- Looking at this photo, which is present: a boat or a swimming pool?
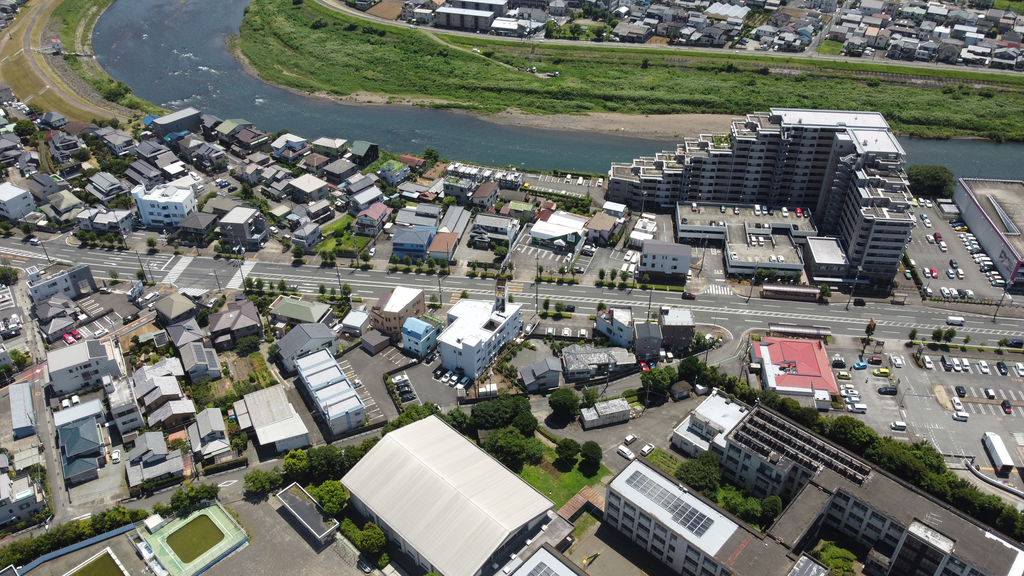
swimming pool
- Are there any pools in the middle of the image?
No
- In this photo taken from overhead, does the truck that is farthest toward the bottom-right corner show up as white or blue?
white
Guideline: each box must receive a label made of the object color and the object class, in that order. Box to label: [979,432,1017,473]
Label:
white truck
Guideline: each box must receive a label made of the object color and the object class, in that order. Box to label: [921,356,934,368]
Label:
white vehicle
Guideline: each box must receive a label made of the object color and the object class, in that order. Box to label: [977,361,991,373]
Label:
white vehicle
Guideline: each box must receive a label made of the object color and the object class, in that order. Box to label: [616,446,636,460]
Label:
white car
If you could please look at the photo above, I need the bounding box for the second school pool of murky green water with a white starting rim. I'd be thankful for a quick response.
[66,545,128,576]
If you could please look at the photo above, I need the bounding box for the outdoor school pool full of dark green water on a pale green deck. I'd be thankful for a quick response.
[138,503,248,576]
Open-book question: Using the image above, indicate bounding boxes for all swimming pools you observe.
[66,545,128,576]
[138,503,248,576]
